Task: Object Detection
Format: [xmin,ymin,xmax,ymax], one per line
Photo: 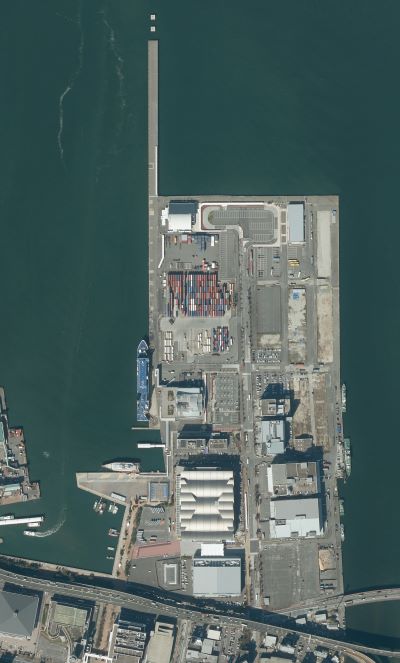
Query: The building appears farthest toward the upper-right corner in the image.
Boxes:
[288,204,308,244]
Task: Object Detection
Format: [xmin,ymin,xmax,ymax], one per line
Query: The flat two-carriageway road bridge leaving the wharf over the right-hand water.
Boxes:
[263,589,400,614]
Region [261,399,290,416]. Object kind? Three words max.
building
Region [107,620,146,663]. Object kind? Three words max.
building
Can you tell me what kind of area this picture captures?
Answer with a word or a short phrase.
port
